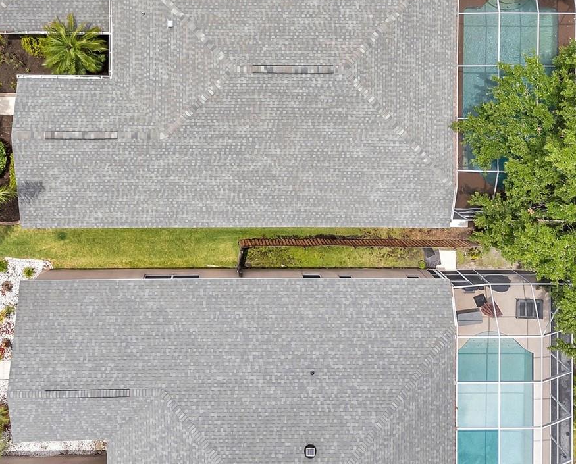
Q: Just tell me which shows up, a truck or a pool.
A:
pool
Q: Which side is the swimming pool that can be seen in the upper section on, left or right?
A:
right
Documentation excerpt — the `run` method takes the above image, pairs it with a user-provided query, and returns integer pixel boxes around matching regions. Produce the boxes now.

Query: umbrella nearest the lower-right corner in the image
[480,301,515,329]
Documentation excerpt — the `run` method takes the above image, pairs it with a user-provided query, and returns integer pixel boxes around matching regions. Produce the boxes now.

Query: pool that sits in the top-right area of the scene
[465,0,559,198]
